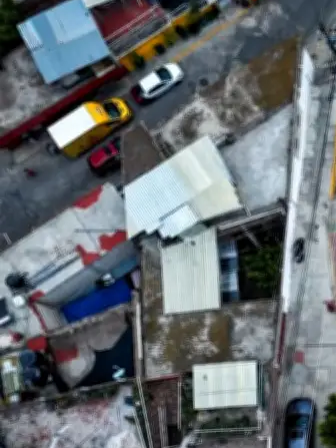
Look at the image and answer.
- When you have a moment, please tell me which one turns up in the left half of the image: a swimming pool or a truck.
truck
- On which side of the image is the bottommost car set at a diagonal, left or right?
left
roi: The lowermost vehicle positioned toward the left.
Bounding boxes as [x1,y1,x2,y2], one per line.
[78,131,131,176]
